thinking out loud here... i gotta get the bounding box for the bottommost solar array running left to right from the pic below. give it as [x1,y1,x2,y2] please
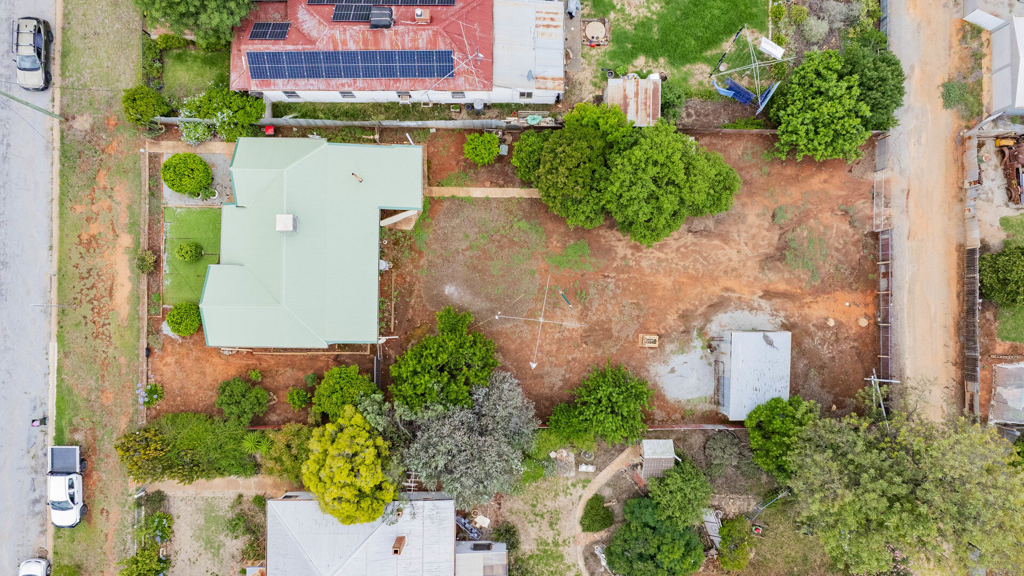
[247,51,455,80]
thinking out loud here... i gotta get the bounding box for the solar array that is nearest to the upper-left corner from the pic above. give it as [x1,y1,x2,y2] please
[249,21,290,38]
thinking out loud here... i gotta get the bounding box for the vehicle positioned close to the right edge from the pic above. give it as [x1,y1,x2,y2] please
[999,146,1024,204]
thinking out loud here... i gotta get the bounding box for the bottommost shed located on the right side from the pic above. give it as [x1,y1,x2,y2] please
[641,439,681,480]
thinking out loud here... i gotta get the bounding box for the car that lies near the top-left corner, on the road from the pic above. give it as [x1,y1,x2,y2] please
[9,18,56,93]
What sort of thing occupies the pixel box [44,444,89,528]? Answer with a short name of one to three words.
vehicle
